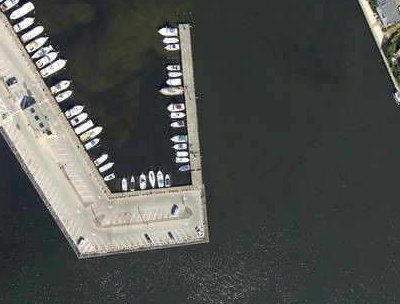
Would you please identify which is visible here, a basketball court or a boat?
boat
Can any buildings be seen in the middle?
No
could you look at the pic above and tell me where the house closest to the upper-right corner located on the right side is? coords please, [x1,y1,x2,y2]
[375,0,400,28]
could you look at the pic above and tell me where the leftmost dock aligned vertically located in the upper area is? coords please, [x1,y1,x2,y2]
[179,24,204,186]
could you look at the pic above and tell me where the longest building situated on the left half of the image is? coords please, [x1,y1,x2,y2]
[24,102,52,135]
